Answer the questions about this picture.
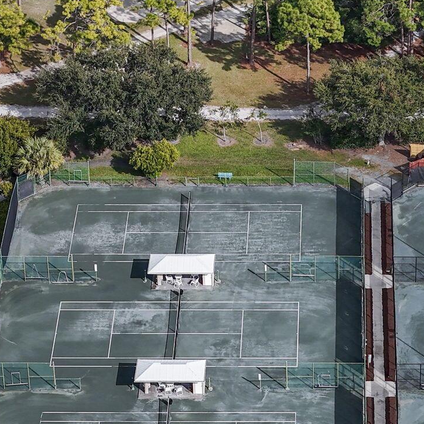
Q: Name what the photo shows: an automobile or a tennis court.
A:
tennis court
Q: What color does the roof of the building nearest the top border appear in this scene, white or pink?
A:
white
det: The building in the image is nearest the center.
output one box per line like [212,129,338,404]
[148,253,215,289]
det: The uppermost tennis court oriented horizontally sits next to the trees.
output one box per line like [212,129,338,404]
[0,185,365,283]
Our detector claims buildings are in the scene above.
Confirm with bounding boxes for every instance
[134,359,207,398]
[148,253,215,289]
